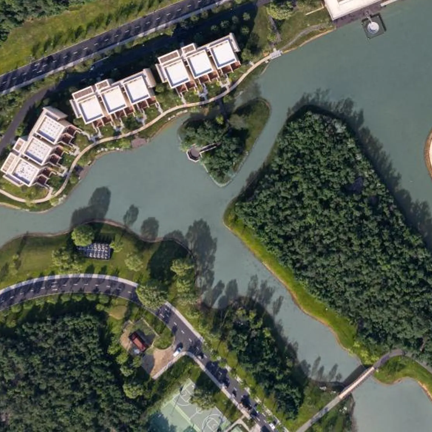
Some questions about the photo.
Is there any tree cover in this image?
Yes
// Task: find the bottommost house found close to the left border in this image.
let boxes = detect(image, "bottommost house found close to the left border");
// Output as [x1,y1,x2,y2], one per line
[1,152,54,187]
